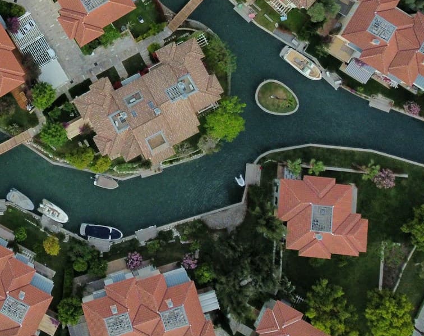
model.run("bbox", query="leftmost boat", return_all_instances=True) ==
[3,186,34,209]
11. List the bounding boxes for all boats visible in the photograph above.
[35,197,67,221]
[89,176,119,190]
[235,174,244,185]
[3,186,34,209]
[77,222,123,239]
[278,46,321,79]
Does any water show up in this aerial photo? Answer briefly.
Yes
